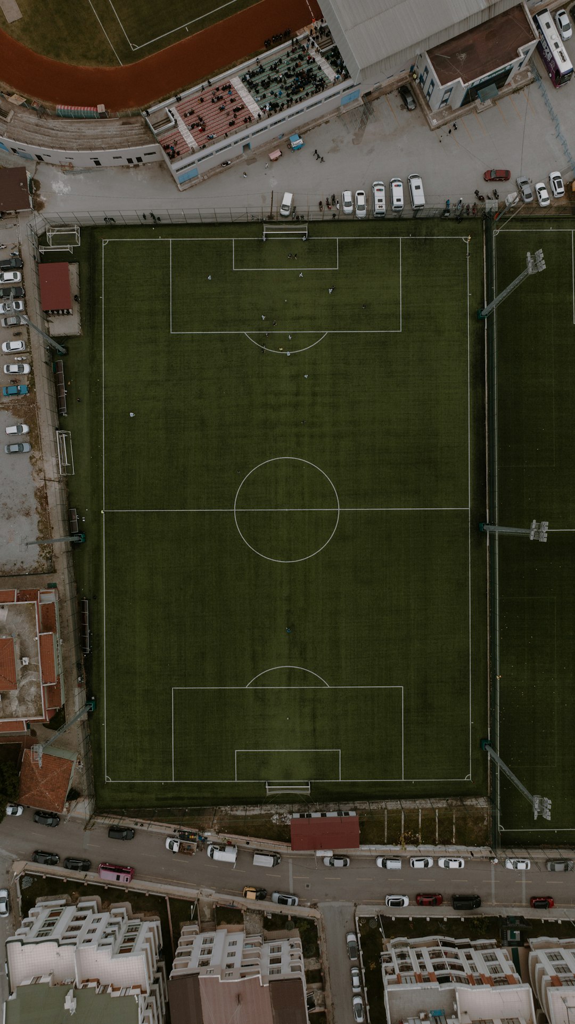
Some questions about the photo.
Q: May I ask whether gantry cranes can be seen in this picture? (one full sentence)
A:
No, there isn't any gantry crane down there.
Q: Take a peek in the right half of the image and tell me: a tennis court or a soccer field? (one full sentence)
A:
What appears in the right half of the image is a soccer field.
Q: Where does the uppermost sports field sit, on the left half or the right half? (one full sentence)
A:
The uppermost sports field appears in the left half of the scene.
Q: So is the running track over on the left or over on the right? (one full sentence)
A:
You can find the running track on the left side of the picture.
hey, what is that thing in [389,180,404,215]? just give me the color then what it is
white vehicle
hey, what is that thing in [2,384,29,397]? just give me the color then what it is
blue vehicle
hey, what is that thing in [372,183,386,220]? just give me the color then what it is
white vehicle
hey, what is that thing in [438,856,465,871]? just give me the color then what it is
white car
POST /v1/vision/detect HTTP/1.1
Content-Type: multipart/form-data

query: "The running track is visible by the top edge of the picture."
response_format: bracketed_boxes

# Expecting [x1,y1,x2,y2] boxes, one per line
[0,0,337,111]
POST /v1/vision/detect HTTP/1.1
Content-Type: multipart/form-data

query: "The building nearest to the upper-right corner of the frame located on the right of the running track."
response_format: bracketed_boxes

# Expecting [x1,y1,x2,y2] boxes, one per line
[412,5,541,131]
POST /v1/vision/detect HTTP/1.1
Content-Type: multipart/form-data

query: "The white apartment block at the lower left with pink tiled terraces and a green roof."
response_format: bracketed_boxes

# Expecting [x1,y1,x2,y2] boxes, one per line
[4,896,174,1024]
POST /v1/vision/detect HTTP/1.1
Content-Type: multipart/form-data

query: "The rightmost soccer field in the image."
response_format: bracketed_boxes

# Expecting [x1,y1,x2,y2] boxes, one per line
[498,216,575,849]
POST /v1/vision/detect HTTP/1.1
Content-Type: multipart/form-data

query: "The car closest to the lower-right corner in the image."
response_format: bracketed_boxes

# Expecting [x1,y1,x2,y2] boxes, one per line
[530,895,555,910]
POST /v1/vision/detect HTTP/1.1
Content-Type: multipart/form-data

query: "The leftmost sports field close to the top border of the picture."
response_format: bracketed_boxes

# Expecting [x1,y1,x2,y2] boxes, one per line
[0,0,261,67]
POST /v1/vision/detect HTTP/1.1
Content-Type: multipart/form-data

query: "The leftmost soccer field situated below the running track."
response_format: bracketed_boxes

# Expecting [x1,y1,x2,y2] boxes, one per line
[39,219,489,803]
